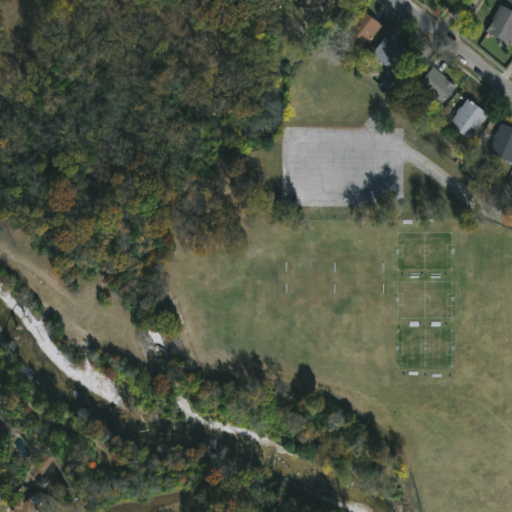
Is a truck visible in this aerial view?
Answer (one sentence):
No, there's no truck here.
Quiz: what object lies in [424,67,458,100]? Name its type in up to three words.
house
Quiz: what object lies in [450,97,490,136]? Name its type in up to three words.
house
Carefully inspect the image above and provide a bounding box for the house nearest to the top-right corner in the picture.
[484,3,512,41]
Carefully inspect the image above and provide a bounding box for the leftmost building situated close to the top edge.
[350,12,380,42]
